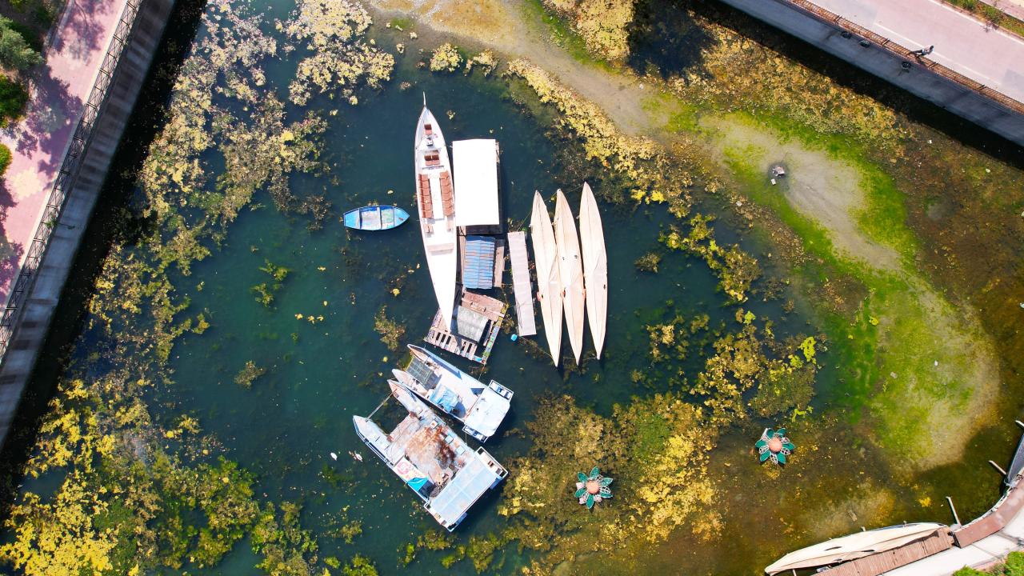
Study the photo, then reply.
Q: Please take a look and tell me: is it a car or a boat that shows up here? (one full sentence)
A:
Of the two, only a boat appears.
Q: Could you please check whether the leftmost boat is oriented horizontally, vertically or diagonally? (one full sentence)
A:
From this overhead view, the leftmost boat appears to run horizontally.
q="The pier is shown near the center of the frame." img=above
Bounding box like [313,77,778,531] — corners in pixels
[507,232,537,335]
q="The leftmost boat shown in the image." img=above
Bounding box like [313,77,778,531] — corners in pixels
[344,206,411,230]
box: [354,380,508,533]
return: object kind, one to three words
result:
boat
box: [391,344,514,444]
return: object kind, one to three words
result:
boat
